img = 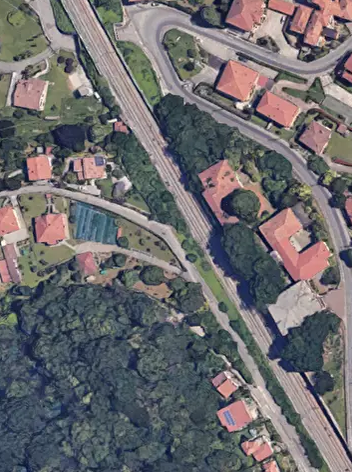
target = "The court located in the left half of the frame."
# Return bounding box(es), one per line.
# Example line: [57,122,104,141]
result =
[74,202,117,245]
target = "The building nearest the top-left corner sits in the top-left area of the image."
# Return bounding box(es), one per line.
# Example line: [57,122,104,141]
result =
[14,78,49,110]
